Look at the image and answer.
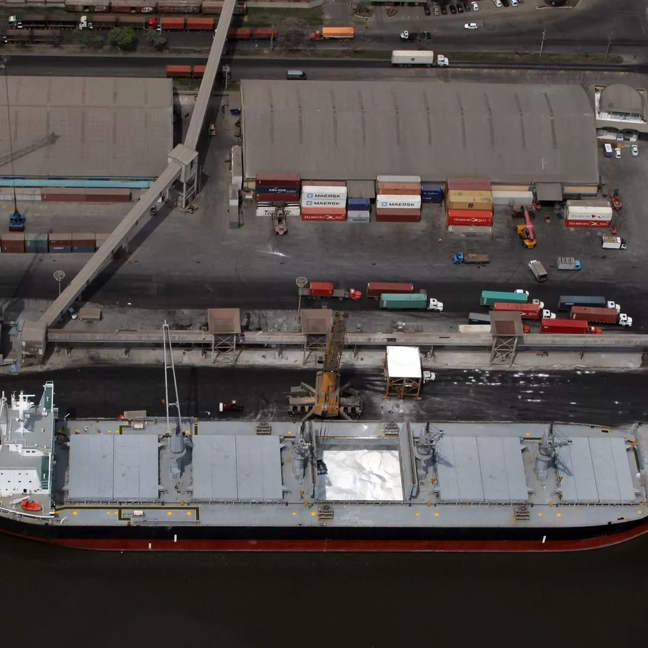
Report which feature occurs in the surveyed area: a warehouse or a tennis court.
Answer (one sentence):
Visible in the photo is a warehouse.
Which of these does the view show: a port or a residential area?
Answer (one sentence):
The area seen from above is a port.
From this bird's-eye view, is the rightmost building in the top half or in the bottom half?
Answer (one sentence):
The rightmost building sits in the top half of the picture.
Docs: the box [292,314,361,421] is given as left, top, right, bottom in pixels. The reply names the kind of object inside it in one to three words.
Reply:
crane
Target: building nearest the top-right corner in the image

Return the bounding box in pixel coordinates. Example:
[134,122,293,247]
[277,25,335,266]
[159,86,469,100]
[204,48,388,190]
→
[596,83,648,144]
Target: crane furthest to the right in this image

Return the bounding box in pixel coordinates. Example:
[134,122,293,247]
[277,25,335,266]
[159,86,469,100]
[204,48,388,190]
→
[531,422,574,490]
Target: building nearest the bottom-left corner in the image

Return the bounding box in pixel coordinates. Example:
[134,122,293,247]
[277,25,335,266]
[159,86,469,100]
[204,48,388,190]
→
[22,310,47,356]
